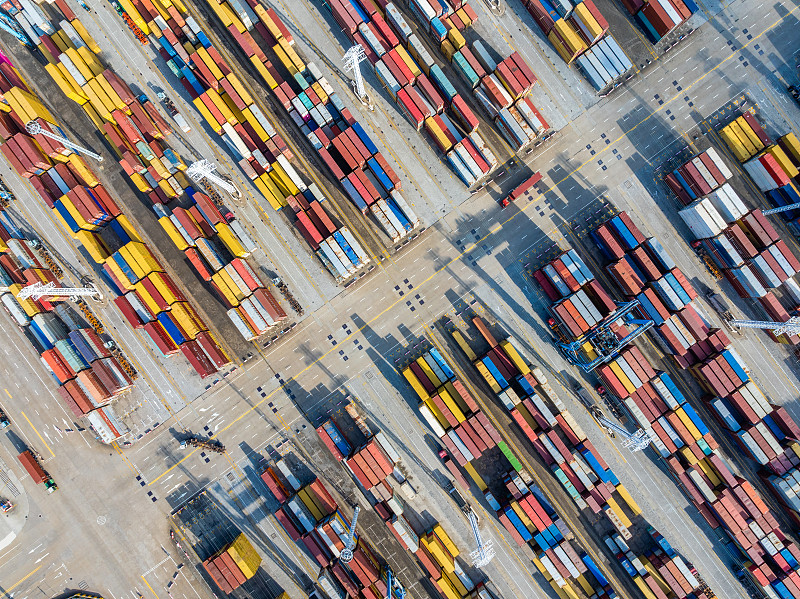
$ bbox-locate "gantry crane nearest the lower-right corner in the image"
[555,298,658,372]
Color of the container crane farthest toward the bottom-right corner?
blue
